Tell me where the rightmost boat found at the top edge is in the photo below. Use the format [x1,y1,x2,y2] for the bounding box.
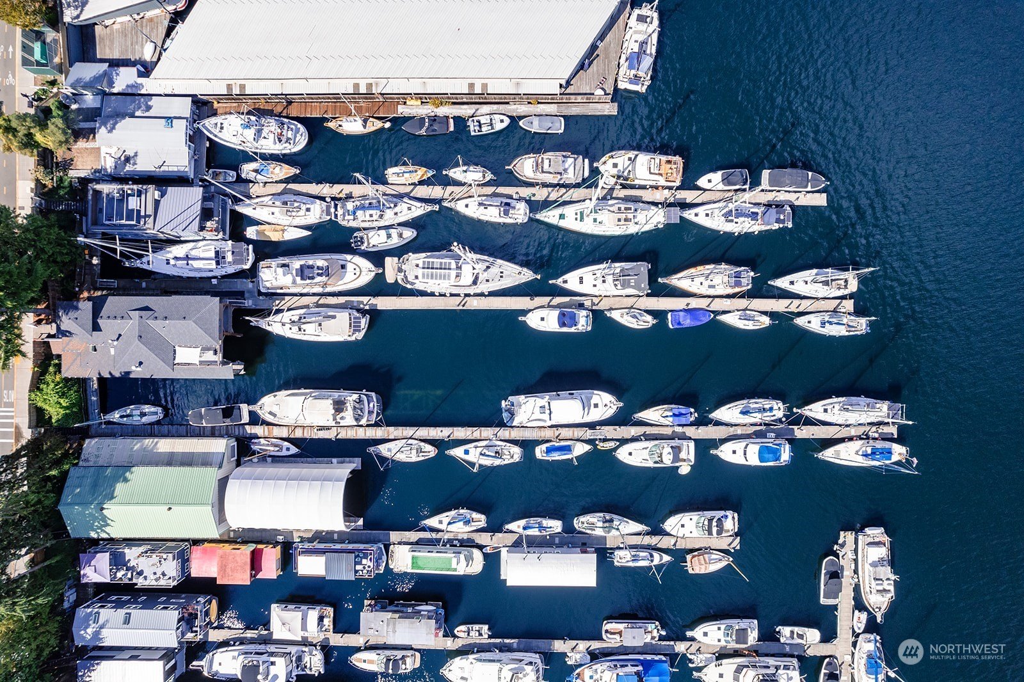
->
[616,0,666,93]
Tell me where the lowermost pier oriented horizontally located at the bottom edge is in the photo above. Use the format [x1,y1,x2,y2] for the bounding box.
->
[212,628,840,658]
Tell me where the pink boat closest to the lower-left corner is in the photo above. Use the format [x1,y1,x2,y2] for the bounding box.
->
[191,540,287,584]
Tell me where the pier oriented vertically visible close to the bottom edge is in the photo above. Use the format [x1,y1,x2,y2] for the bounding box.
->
[833,529,860,682]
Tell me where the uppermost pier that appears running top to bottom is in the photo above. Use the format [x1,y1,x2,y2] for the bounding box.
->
[191,97,210,186]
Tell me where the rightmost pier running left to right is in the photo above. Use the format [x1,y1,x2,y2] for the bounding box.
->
[588,425,897,442]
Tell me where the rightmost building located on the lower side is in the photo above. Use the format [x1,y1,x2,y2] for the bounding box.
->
[500,544,597,587]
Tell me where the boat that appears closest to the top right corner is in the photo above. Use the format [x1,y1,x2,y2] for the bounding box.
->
[760,169,830,193]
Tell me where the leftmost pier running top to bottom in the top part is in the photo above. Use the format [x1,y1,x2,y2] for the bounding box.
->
[90,238,104,296]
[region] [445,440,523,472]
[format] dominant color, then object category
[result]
white boat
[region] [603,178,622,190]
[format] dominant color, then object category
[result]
white boat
